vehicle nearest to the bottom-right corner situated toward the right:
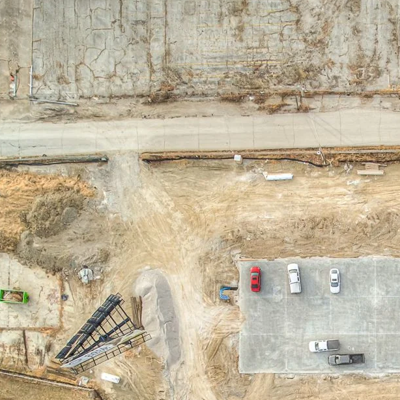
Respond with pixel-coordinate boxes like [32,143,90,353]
[328,352,364,366]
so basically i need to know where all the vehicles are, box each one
[307,339,341,352]
[328,268,341,294]
[286,261,301,295]
[246,267,260,293]
[328,352,364,366]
